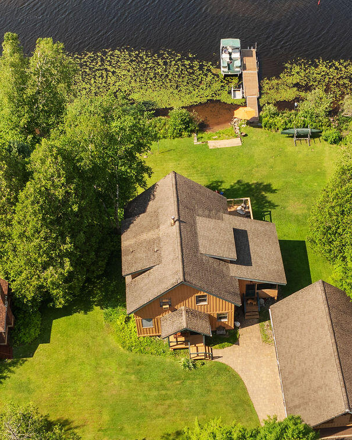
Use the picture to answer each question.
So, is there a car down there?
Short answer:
No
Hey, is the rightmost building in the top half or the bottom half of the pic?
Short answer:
bottom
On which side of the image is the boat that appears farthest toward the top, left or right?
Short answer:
right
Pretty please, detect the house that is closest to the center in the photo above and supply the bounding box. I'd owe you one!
[119,170,287,364]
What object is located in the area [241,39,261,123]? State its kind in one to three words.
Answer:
pier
